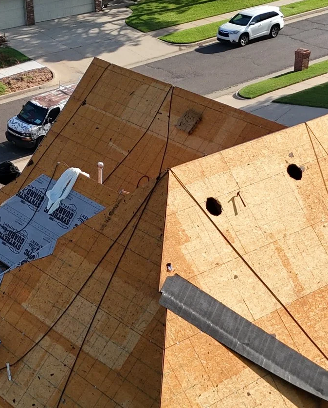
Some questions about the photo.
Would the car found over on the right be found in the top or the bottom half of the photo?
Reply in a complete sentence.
The top half of the photo is where the car found over on the right is.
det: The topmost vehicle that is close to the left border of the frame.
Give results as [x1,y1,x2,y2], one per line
[0,70,82,147]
